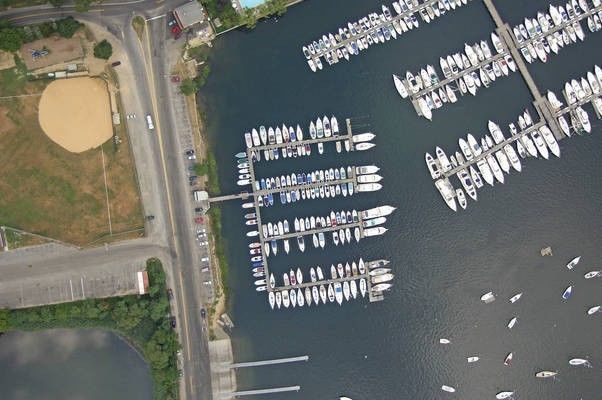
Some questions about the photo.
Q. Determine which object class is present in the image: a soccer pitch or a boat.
boat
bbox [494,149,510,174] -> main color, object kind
white boat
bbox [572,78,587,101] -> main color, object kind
white boat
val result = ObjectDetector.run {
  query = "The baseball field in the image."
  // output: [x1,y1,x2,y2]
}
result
[0,59,146,251]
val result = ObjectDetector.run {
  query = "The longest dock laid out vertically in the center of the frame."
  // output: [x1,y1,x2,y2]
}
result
[248,147,270,294]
